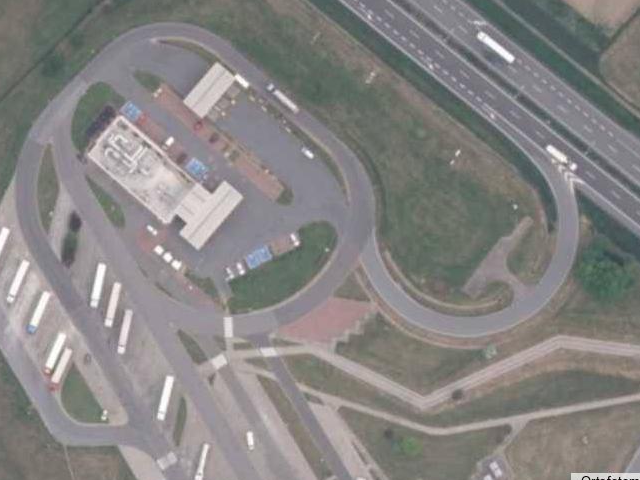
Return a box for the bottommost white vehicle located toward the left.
[195,443,210,480]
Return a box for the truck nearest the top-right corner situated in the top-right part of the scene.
[476,31,516,64]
